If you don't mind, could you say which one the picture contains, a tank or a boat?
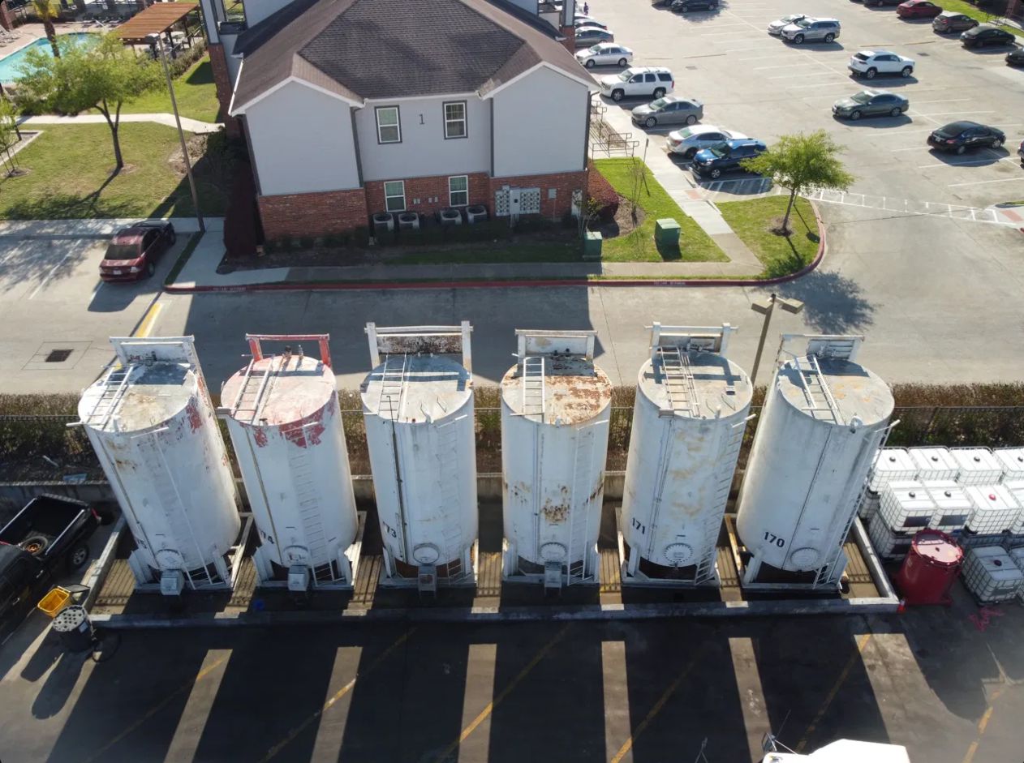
tank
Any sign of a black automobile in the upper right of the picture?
Yes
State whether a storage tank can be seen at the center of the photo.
Yes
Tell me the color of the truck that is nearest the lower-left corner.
black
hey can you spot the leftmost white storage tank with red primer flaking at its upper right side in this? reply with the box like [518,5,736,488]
[54,332,251,597]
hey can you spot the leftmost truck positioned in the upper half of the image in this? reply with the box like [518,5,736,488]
[100,212,182,282]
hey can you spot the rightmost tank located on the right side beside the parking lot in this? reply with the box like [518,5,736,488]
[725,327,898,580]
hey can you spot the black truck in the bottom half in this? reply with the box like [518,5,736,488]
[0,491,101,651]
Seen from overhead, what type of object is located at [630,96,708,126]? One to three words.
car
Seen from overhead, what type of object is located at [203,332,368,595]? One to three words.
storage tank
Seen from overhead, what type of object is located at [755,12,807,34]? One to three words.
car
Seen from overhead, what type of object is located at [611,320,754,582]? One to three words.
storage tank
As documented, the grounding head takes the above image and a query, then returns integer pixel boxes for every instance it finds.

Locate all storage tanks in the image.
[54,332,251,597]
[725,327,898,580]
[359,321,482,593]
[203,332,368,595]
[500,328,614,590]
[611,320,754,582]
[895,533,967,614]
